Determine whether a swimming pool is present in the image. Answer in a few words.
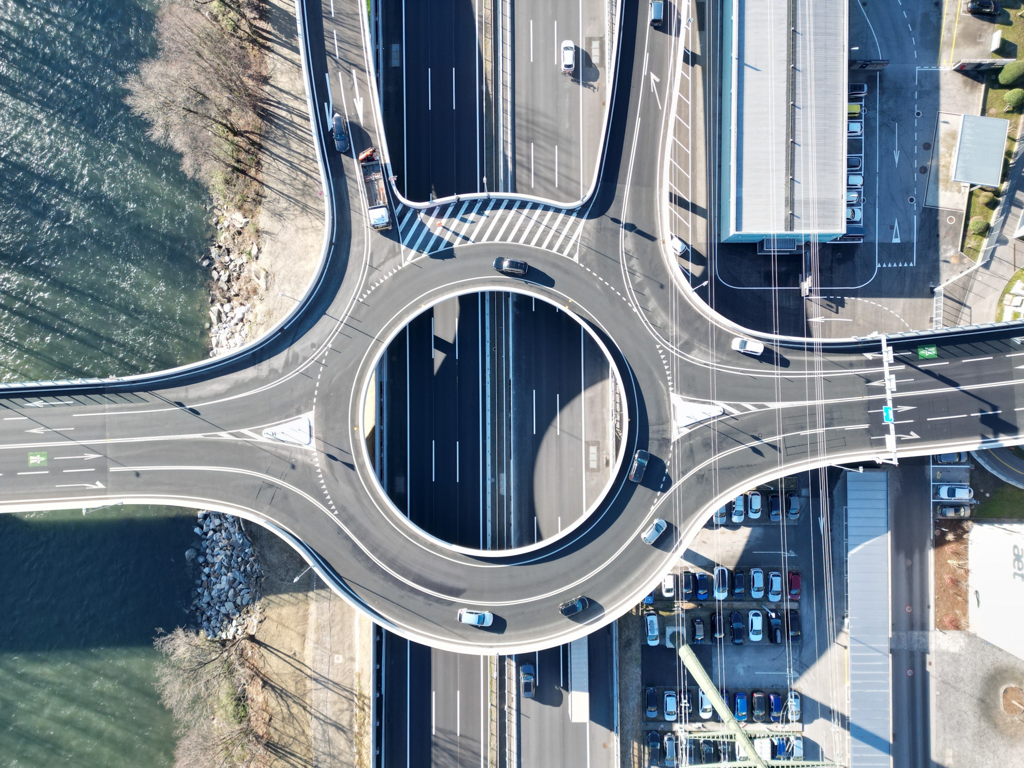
No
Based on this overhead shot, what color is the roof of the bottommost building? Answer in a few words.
white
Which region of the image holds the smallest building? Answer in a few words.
top right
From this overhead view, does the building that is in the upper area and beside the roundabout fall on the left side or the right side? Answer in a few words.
right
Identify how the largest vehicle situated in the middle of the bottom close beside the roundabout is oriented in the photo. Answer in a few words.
up and down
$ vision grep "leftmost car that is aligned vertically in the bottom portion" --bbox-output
[519,661,535,696]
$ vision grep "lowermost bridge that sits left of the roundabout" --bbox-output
[0,379,109,513]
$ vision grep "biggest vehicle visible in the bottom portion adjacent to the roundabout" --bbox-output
[569,633,589,721]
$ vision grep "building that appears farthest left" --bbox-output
[721,0,848,258]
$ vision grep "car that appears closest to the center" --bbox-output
[494,257,528,276]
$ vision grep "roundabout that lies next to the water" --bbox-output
[103,177,876,655]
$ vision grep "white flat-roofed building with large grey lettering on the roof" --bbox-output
[966,523,1024,663]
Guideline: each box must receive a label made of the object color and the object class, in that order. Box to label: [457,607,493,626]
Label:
white car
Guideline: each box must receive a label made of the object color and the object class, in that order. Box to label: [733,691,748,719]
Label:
blue car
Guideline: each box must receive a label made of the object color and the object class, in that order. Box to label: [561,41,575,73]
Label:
white car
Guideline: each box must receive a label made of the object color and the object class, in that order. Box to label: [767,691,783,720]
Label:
blue car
